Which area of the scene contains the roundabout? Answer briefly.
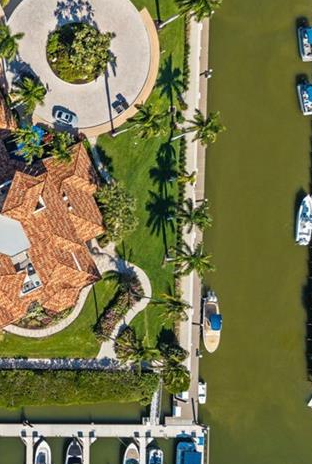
top left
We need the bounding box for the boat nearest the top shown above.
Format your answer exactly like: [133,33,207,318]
[294,20,312,63]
